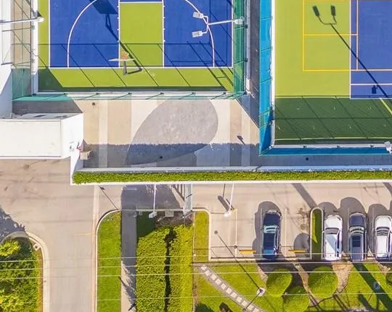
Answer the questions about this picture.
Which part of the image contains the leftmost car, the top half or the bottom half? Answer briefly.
bottom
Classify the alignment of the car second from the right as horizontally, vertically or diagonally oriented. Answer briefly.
vertically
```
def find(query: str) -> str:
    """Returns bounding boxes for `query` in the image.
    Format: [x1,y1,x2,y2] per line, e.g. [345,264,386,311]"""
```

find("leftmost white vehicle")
[323,212,344,258]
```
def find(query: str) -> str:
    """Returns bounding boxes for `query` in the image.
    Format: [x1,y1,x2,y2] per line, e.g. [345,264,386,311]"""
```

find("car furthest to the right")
[373,211,392,257]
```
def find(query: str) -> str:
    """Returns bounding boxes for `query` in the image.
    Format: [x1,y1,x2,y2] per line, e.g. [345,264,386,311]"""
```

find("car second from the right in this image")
[345,212,368,257]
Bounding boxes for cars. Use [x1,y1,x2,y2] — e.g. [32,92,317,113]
[323,212,344,258]
[260,210,283,255]
[373,211,392,257]
[345,212,368,257]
